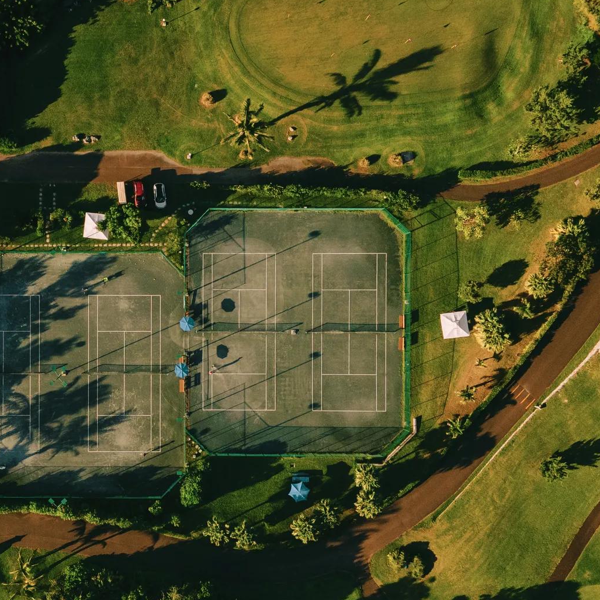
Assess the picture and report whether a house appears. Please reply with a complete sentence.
No, I find no house anywhere in the image.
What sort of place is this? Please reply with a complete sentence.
The picture captures a sports ground.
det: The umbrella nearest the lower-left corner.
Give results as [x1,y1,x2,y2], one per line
[175,363,188,378]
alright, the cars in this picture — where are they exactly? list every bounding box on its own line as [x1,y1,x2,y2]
[154,183,168,208]
[132,180,146,208]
